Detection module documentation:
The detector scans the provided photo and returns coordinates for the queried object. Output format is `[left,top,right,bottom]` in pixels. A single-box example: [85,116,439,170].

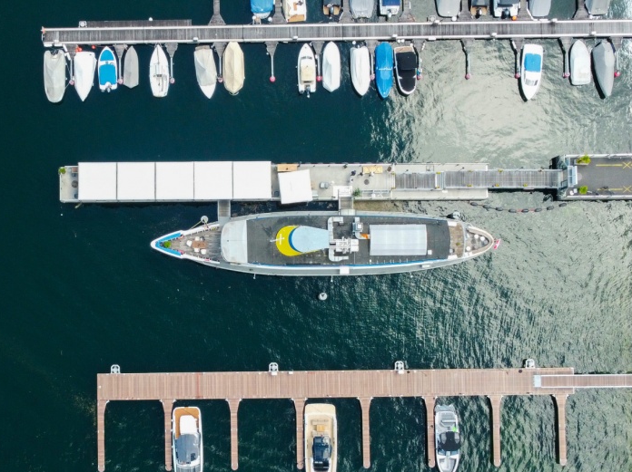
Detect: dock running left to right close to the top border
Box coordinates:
[43,0,632,81]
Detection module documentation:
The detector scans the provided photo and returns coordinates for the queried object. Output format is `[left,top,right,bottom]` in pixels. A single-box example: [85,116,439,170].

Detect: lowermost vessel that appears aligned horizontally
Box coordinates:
[151,212,497,282]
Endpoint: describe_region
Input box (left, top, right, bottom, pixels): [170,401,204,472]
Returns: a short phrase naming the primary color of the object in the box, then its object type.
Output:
white boat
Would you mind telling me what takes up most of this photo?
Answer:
water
